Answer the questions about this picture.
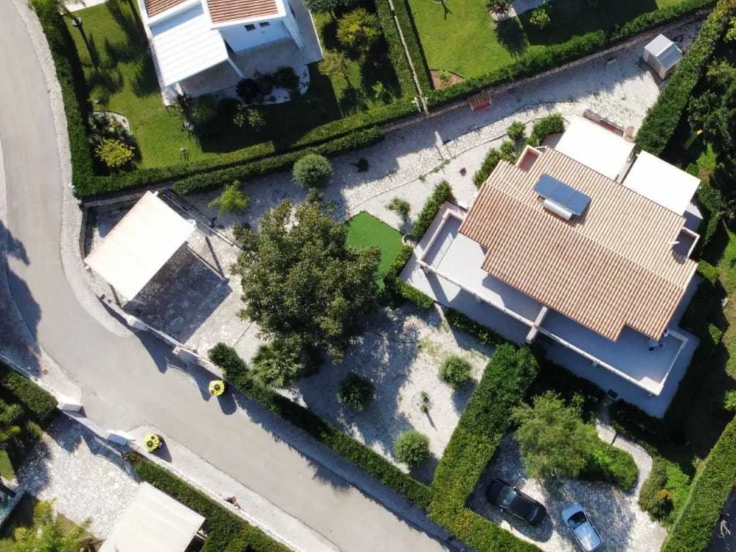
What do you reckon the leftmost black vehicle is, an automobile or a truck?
automobile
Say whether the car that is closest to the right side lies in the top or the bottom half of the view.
bottom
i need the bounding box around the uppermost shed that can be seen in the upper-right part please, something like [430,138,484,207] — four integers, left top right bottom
[642,35,683,78]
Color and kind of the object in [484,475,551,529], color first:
black car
